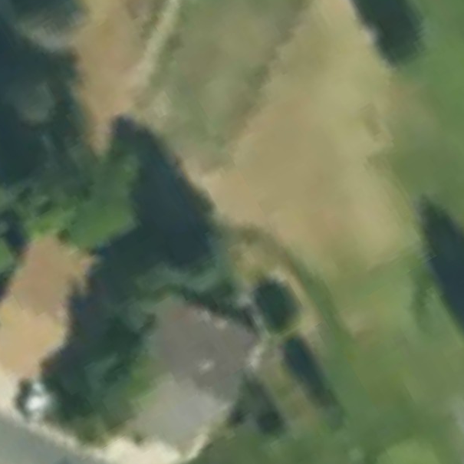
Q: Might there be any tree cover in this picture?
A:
Yes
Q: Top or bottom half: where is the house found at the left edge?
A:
bottom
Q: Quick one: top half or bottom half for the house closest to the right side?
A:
bottom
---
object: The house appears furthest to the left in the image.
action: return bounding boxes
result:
[0,228,96,386]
